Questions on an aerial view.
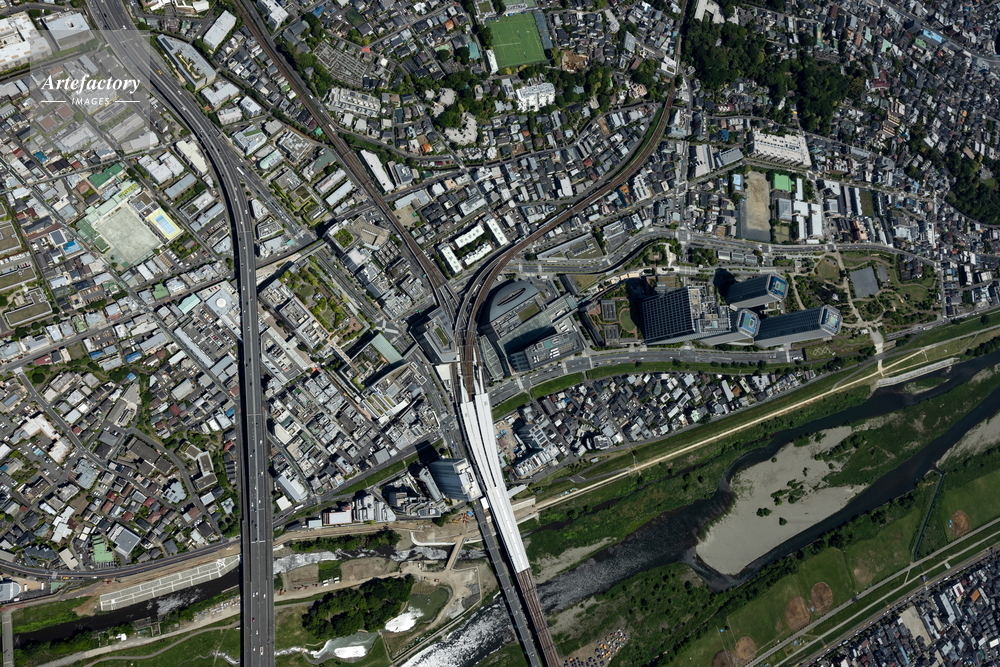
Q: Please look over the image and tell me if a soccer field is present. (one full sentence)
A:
Yes, the frame does contain a soccer field.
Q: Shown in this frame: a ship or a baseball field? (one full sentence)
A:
Looking from above, you can make out a baseball field.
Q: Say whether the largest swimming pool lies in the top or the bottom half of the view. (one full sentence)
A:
Seen from above, the largest swimming pool lies in the top half of the view.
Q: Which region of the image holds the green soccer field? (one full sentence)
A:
The green soccer field appears toward the top of the photo.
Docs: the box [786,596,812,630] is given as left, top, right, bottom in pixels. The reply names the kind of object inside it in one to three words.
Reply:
baseball field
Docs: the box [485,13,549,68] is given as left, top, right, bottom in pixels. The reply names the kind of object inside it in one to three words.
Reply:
soccer field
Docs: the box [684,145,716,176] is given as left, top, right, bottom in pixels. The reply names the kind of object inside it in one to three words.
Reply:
building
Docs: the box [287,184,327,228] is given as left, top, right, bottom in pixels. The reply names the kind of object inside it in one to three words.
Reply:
building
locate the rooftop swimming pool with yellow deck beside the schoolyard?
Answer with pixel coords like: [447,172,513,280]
[145,208,185,244]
